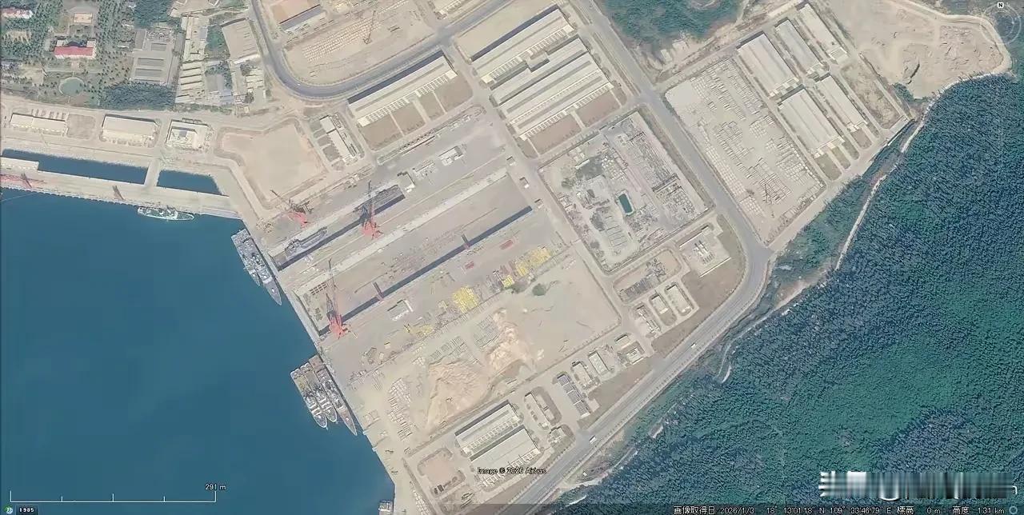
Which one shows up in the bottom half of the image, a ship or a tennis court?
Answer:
ship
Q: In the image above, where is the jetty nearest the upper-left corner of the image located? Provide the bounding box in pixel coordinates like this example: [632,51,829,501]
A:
[0,157,240,218]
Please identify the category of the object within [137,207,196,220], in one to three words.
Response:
ship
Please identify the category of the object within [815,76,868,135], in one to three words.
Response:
building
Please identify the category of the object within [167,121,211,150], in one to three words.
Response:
building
